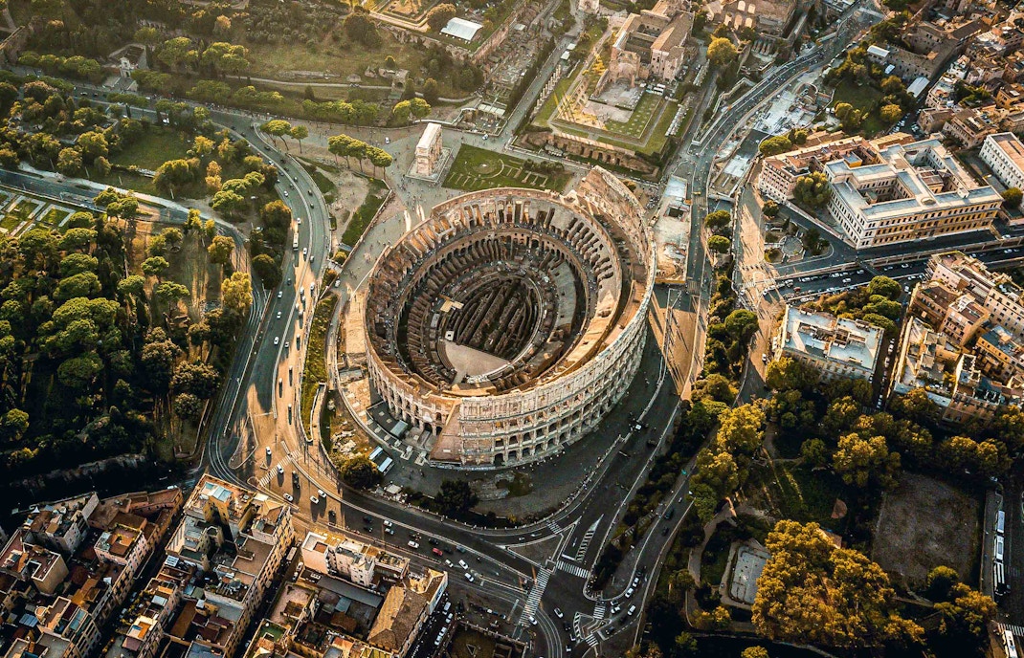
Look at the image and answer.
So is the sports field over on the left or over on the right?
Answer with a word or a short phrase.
right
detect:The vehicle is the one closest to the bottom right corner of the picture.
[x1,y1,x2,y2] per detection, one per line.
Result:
[1005,628,1018,657]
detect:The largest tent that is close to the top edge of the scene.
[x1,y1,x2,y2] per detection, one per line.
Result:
[439,17,484,46]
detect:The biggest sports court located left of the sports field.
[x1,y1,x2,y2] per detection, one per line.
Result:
[723,542,777,606]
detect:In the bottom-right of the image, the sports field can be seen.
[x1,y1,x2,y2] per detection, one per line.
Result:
[875,491,979,581]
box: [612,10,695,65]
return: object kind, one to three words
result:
building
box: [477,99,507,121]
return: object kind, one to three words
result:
building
